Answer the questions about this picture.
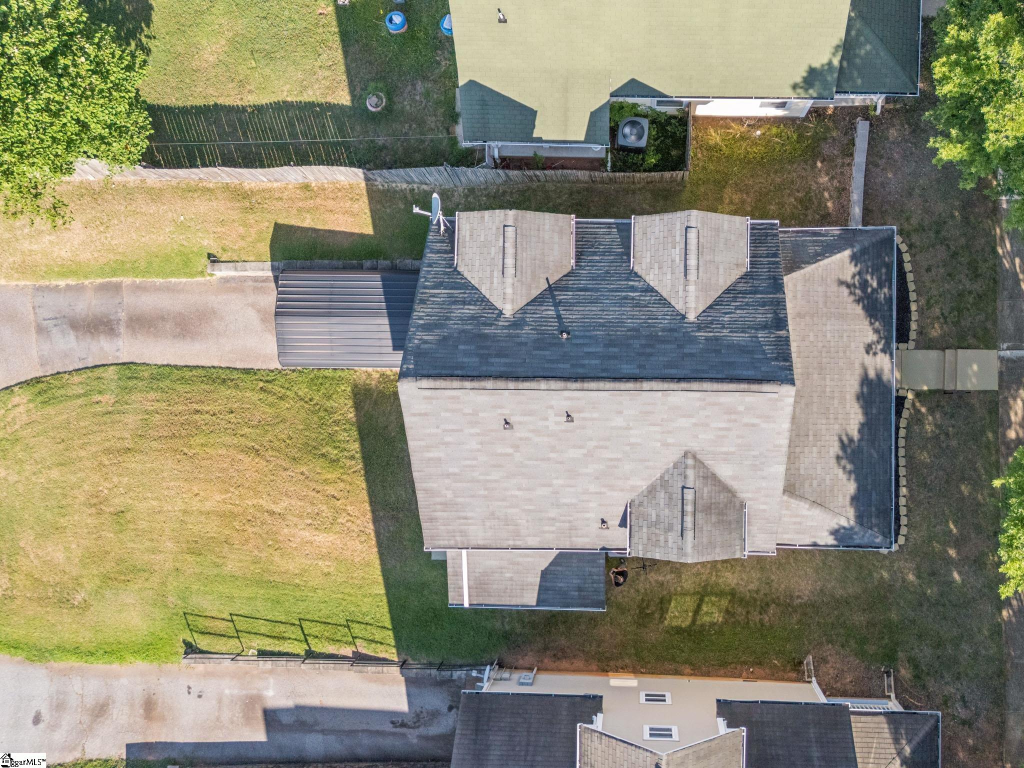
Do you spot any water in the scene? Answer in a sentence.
No, the scene doesn't show any water.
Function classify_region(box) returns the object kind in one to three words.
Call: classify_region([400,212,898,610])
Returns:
house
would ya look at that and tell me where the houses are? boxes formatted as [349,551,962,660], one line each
[400,212,898,610]
[449,0,920,174]
[450,663,941,768]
